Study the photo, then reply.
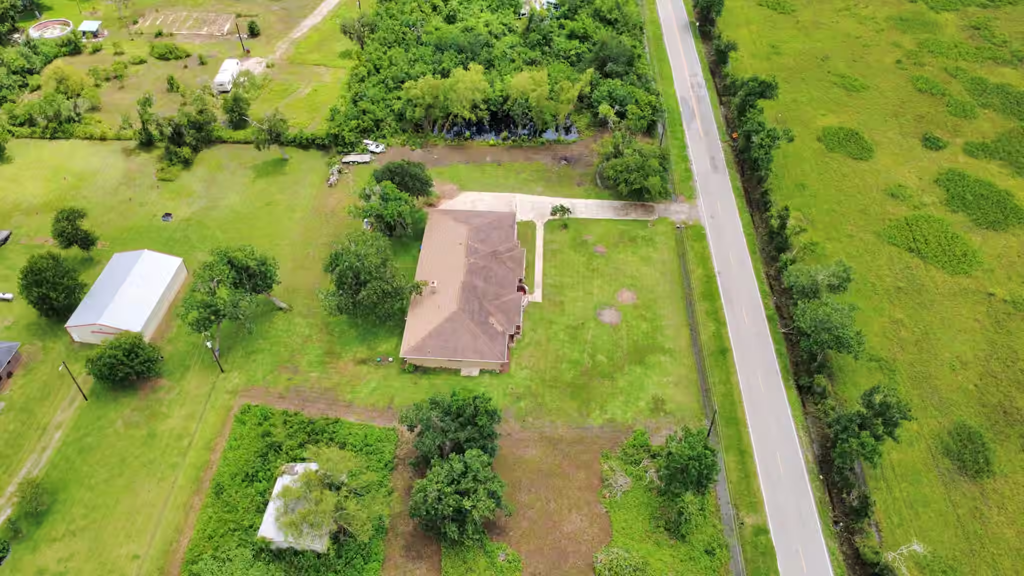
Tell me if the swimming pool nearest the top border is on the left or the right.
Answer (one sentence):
The swimming pool nearest the top border sits on the left side.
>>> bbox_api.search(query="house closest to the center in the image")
[399,209,530,370]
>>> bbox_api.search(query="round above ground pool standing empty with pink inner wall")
[23,16,74,42]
